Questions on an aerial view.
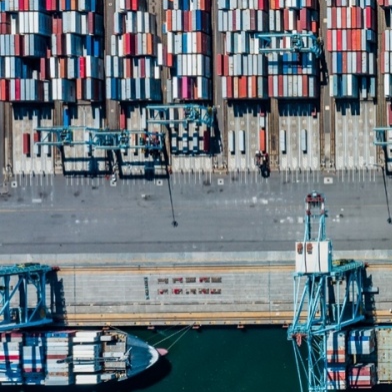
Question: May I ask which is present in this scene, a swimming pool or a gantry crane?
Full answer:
It is a gantry crane that can be seen here.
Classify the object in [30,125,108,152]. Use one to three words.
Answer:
container crane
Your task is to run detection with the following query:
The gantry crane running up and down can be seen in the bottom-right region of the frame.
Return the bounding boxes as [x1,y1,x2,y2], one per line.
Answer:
[286,193,376,392]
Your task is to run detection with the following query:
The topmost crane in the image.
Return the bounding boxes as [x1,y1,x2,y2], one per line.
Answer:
[257,33,325,64]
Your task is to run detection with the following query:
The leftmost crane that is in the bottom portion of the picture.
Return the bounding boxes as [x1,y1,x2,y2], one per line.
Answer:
[0,260,69,346]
